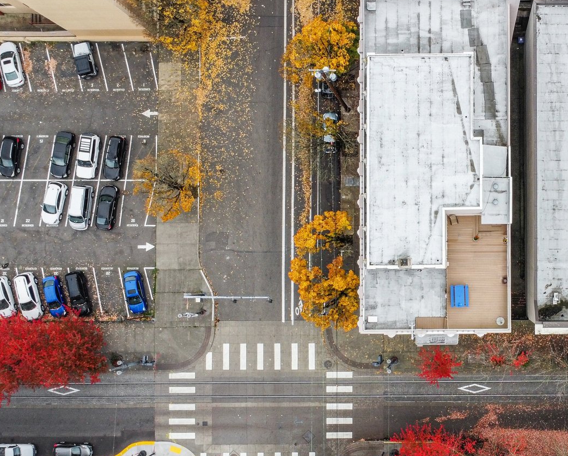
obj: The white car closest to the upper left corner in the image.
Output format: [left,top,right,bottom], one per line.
[0,43,28,89]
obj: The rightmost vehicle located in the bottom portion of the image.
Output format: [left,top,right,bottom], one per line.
[123,270,149,315]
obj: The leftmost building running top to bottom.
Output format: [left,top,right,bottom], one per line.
[353,0,521,346]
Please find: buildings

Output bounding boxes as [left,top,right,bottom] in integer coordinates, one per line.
[0,0,152,40]
[353,0,521,346]
[525,3,568,334]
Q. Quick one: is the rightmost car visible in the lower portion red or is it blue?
blue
